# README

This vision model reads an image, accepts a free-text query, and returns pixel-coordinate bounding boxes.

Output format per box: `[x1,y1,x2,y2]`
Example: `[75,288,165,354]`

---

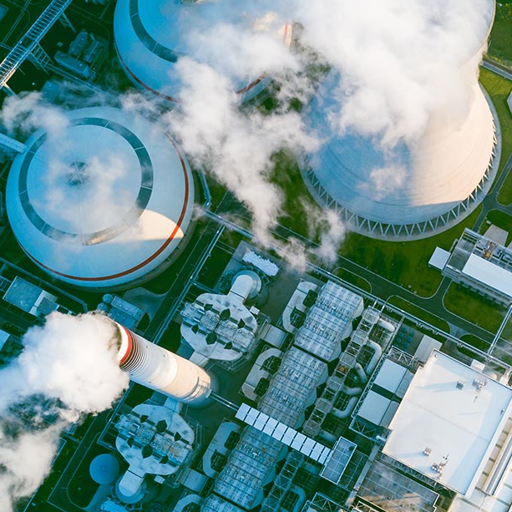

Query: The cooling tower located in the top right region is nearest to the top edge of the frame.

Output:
[294,0,499,242]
